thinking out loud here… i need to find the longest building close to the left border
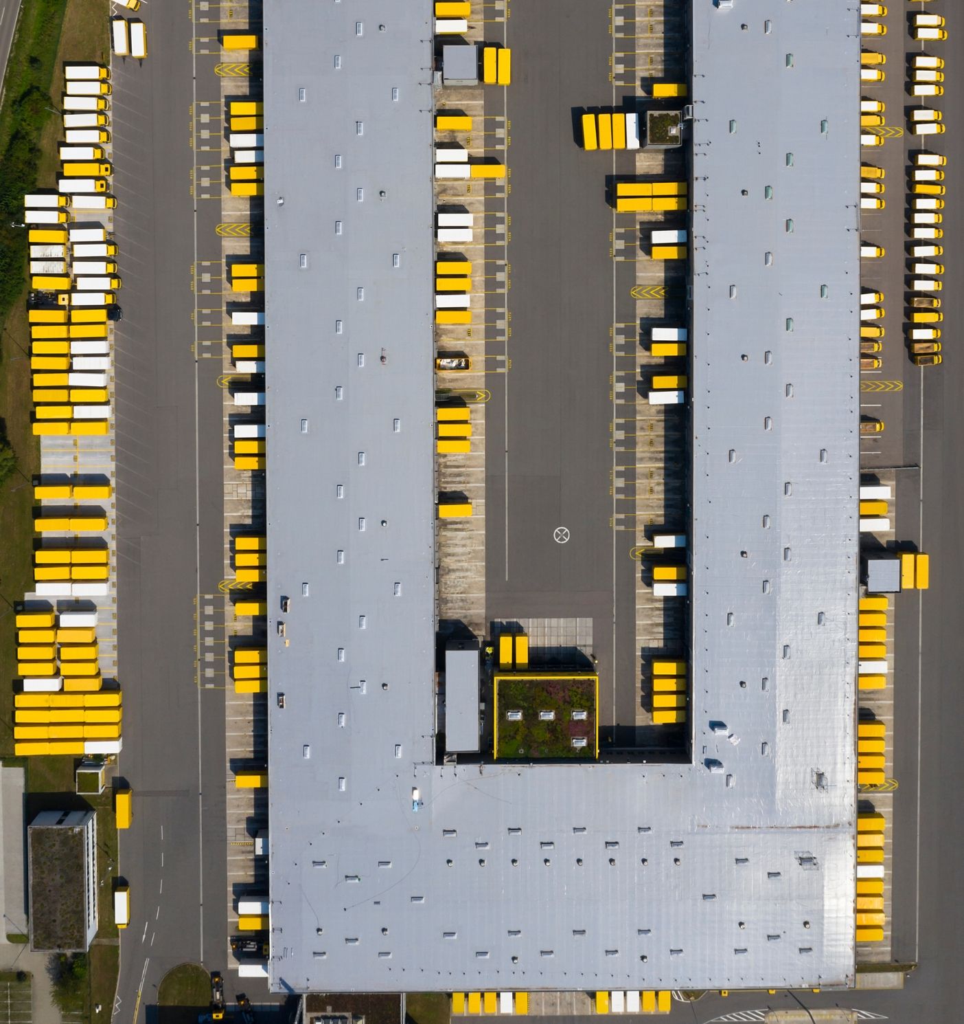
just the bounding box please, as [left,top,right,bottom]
[27,811,98,953]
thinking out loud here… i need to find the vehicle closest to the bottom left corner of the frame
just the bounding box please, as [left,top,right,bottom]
[115,884,130,931]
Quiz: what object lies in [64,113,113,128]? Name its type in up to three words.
vehicle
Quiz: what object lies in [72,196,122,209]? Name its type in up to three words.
vehicle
